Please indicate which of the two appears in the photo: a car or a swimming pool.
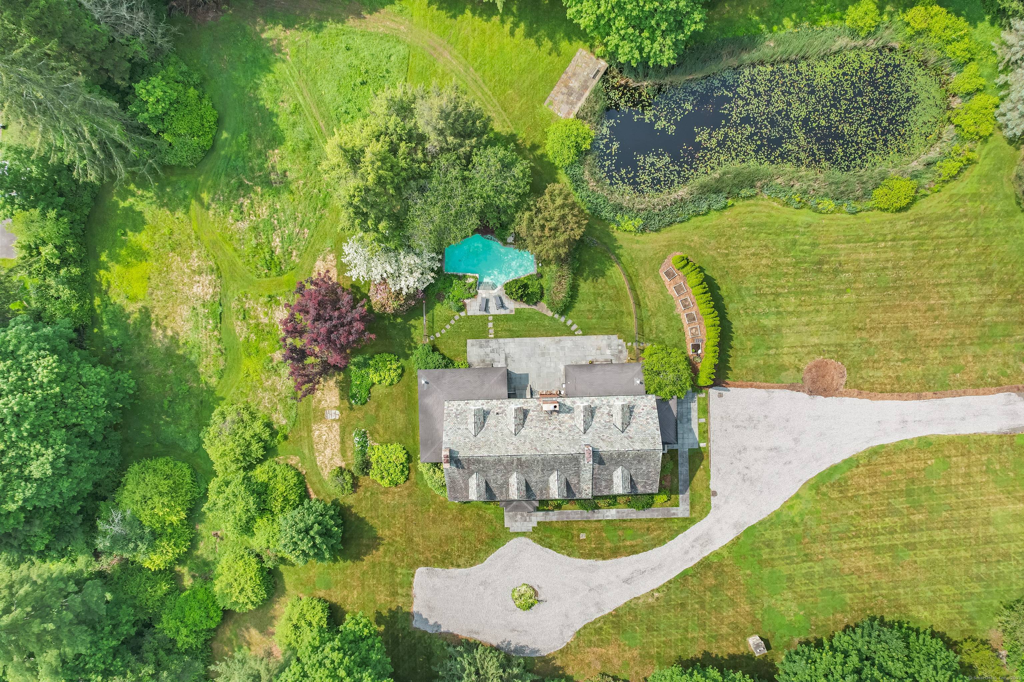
swimming pool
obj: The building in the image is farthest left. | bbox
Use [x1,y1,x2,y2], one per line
[417,362,678,513]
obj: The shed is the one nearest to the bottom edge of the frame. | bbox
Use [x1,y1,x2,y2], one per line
[745,632,768,657]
